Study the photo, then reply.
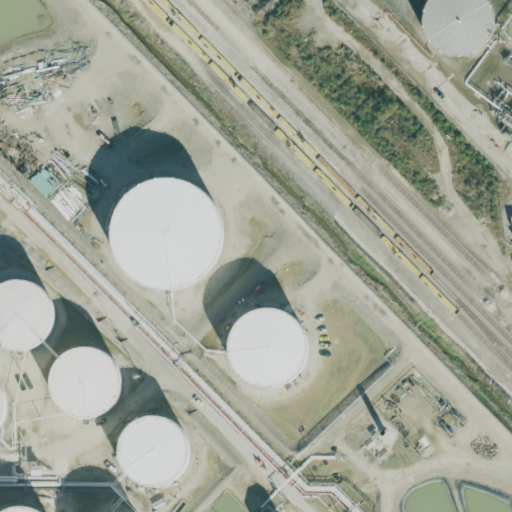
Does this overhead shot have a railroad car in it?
Yes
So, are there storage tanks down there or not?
Yes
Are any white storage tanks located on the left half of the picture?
Yes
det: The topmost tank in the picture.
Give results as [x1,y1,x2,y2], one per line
[420,0,498,60]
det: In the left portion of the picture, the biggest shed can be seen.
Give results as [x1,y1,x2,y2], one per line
[30,168,60,197]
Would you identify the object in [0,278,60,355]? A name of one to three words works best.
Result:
storage tank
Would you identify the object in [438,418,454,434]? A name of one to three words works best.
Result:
vehicle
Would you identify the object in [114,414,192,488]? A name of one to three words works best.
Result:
storage tank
